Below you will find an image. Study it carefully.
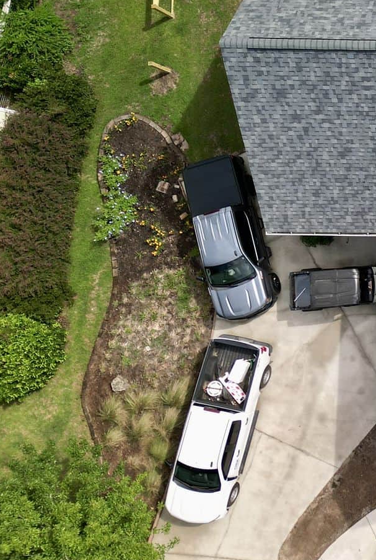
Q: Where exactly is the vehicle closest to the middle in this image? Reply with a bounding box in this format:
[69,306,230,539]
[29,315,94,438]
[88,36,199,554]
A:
[178,153,276,321]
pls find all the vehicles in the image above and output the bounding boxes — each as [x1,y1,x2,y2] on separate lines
[286,261,376,309]
[158,328,273,528]
[178,153,276,321]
